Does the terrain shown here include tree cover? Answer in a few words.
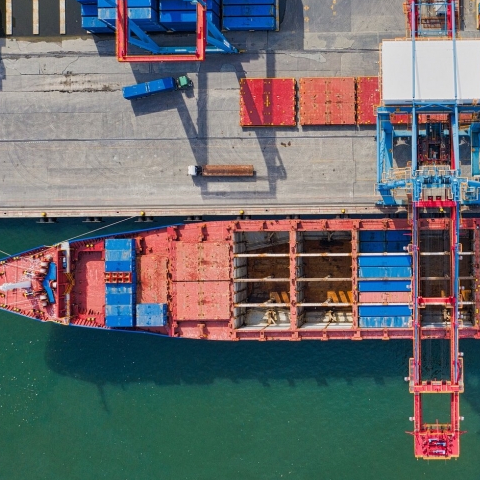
No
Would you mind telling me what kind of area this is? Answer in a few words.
port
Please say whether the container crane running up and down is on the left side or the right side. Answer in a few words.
right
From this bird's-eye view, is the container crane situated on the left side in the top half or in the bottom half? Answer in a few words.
top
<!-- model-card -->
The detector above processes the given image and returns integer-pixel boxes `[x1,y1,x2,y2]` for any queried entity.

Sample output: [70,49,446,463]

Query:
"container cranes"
[116,0,248,64]
[373,0,480,464]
